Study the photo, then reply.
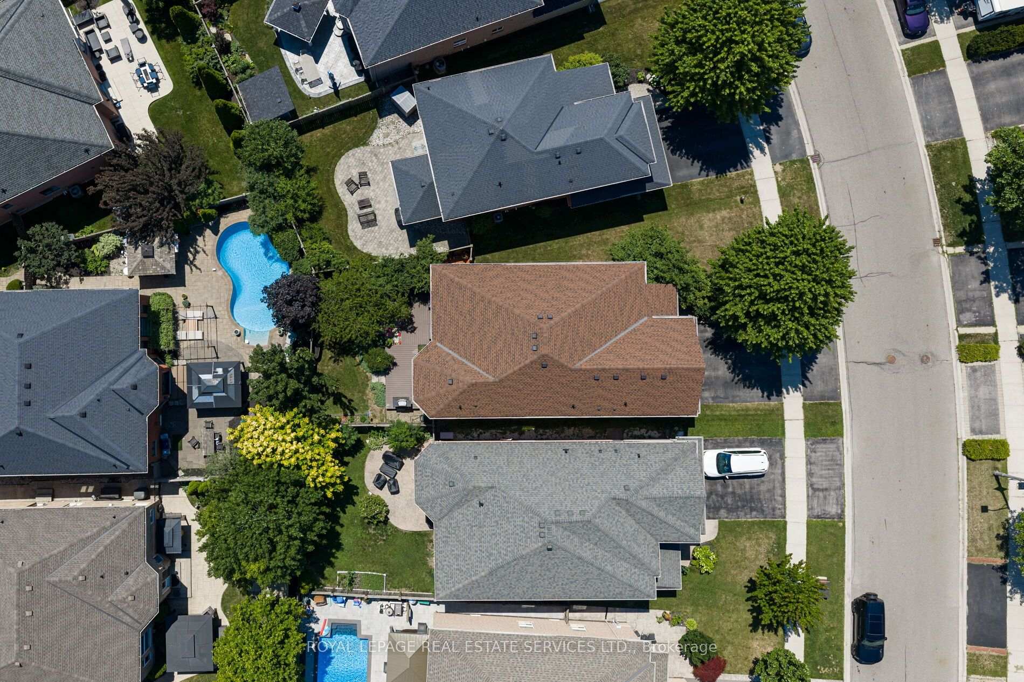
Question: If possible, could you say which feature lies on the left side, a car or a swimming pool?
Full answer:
Visible on the left side is a swimming pool.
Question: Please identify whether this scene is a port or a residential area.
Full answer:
What you see here is a residential area.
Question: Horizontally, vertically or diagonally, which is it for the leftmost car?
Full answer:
The leftmost car is oriented horizontally.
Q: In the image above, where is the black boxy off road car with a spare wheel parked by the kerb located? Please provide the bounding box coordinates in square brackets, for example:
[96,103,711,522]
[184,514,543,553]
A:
[849,594,887,662]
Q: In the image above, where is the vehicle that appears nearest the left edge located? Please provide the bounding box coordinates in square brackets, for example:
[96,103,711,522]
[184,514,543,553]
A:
[705,448,767,480]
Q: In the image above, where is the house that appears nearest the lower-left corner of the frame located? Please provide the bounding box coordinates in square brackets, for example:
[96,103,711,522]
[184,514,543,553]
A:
[0,497,178,682]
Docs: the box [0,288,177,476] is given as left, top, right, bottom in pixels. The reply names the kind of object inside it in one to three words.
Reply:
house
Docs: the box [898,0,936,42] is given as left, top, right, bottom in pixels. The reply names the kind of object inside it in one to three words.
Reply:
car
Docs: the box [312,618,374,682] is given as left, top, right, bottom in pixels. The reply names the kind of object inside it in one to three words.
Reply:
swimming pool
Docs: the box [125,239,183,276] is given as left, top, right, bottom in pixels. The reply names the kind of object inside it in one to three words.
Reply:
gazebo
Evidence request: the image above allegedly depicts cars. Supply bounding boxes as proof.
[849,594,887,662]
[781,0,819,62]
[898,0,936,42]
[705,448,767,480]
